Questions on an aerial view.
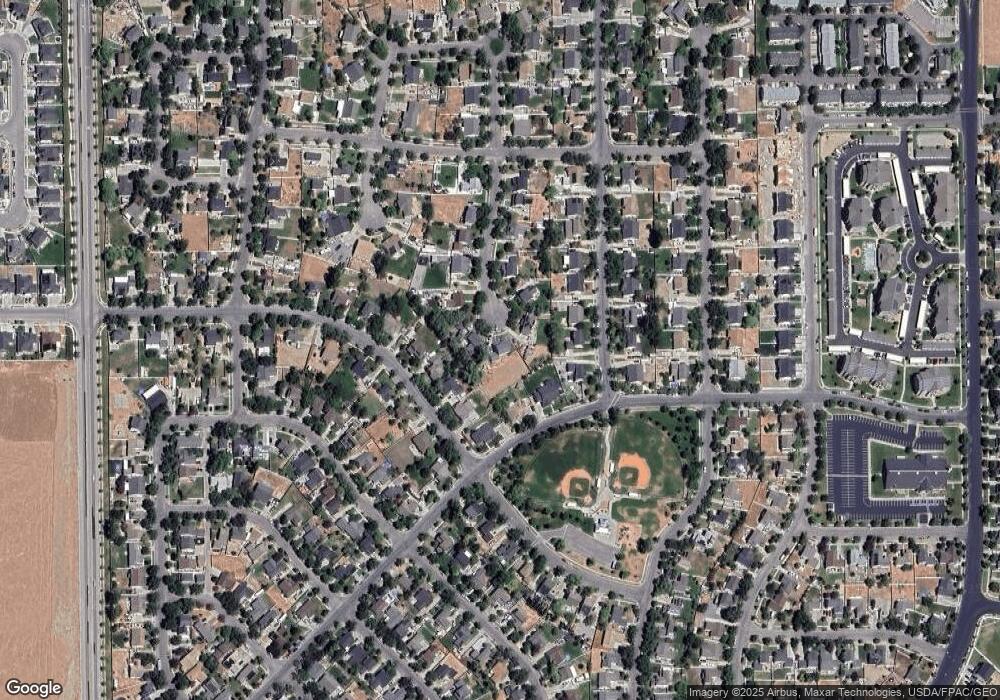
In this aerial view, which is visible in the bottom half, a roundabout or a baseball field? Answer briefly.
baseball field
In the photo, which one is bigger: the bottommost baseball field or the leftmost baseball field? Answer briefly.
the leftmost baseball field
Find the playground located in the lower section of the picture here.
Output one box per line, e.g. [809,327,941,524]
[618,521,643,547]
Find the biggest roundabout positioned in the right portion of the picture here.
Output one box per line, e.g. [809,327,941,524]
[908,243,938,274]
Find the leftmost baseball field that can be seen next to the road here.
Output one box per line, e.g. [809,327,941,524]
[534,432,598,504]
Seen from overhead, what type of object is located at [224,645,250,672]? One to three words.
house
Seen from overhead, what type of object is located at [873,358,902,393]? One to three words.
building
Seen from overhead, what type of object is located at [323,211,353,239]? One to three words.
house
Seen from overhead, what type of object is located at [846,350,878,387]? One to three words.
building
